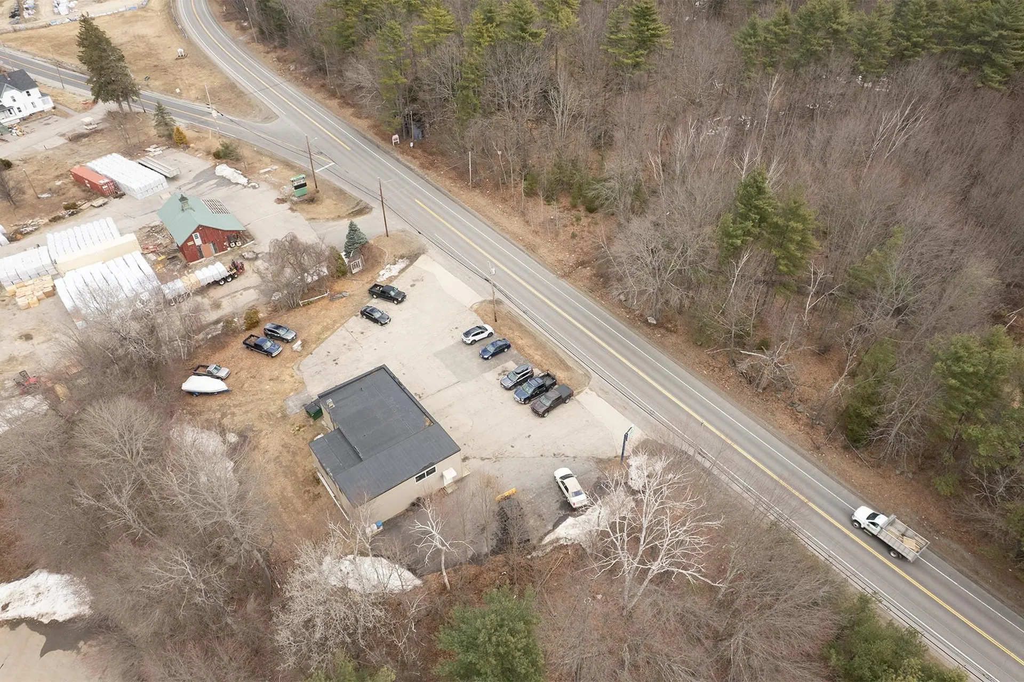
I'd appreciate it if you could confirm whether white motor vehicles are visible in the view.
Yes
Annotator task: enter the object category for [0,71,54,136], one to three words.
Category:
house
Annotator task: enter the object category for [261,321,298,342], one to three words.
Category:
car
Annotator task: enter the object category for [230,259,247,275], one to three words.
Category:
work vehicle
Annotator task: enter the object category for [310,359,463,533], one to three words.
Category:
building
